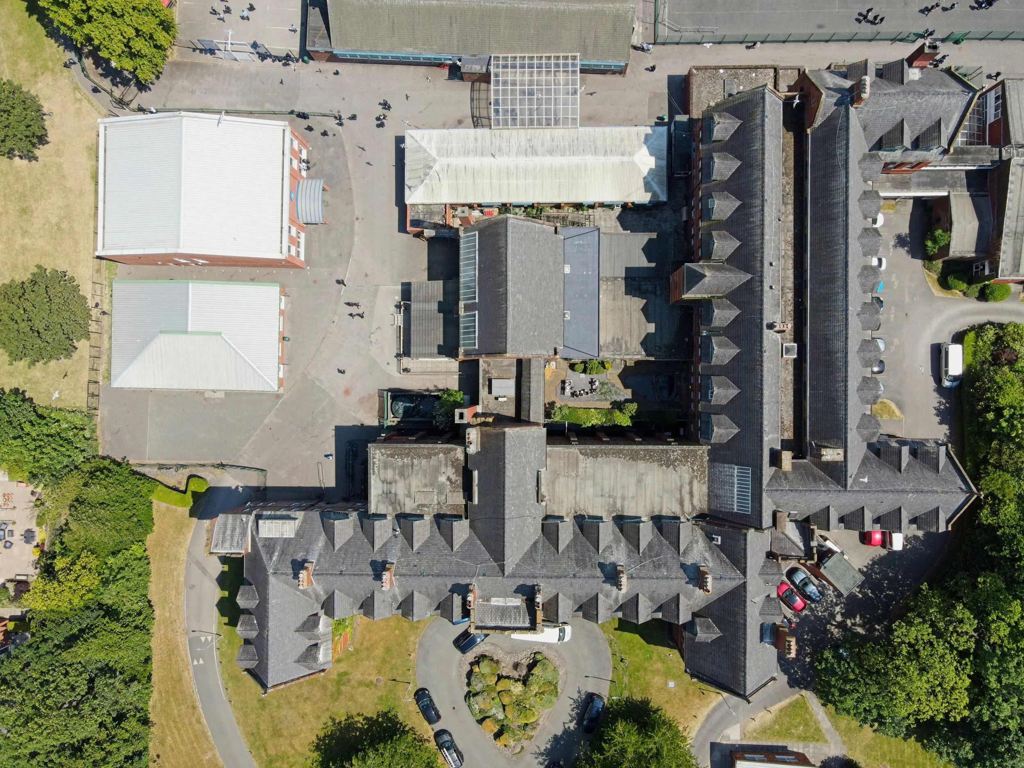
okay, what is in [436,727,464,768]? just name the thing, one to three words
car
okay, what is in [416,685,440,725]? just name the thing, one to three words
car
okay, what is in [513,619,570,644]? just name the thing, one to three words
vehicle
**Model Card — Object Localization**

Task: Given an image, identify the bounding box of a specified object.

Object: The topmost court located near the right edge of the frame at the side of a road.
[659,0,1024,40]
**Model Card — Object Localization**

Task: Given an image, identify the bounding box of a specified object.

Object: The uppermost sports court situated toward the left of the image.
[177,0,301,56]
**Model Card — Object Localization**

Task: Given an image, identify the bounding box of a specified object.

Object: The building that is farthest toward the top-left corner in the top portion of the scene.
[93,110,303,265]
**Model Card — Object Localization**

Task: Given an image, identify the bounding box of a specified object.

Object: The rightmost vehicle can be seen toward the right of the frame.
[938,345,963,388]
